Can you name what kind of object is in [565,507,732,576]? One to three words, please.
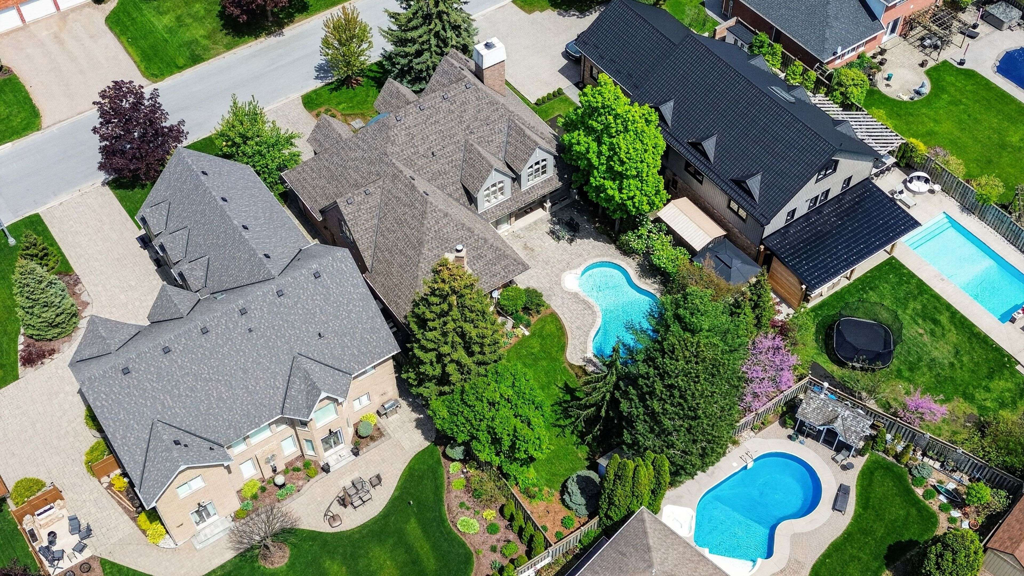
house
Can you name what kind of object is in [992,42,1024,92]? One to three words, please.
swimming pool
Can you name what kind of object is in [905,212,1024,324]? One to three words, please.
swimming pool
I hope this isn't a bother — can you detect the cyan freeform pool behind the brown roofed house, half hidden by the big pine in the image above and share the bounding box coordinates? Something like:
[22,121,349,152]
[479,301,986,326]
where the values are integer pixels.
[558,257,671,367]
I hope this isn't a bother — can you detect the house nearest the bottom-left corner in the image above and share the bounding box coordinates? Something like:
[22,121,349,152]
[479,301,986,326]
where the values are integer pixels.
[65,146,401,549]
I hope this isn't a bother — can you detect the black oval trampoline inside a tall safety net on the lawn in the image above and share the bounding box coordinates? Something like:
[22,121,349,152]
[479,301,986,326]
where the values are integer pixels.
[835,293,902,372]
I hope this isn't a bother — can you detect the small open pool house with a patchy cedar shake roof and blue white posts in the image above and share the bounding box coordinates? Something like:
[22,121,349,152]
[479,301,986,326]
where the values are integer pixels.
[794,378,877,460]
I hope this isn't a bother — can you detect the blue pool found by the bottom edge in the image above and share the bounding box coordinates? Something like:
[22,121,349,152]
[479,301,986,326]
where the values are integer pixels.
[692,450,824,576]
